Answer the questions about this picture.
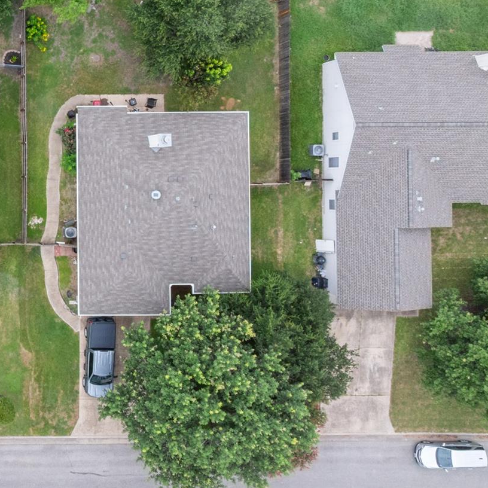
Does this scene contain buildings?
Yes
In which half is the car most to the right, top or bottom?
bottom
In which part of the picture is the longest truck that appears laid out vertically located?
bottom left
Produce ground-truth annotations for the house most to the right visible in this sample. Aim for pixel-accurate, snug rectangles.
[323,45,488,312]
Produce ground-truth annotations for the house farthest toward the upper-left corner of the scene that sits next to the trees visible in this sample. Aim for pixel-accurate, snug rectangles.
[68,106,251,316]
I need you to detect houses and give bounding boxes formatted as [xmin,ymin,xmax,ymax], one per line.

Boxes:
[68,106,251,316]
[323,45,488,312]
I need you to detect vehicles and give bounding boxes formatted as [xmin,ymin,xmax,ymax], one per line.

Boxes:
[81,316,120,398]
[413,439,484,474]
